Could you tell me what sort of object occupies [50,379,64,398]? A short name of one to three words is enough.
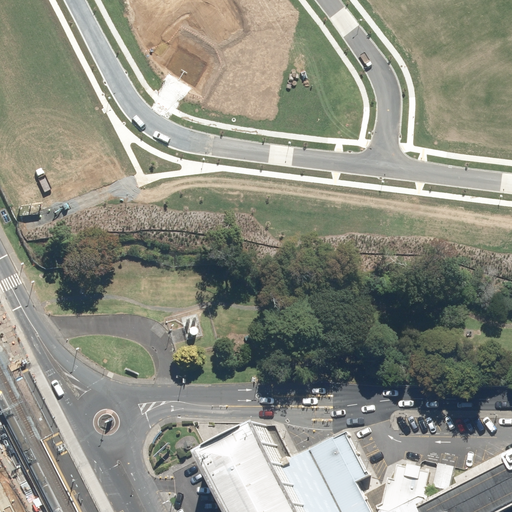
vehicle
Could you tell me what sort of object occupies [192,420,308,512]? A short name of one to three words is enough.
building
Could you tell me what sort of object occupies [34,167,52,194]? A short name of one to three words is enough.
vehicle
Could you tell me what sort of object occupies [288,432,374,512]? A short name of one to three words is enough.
building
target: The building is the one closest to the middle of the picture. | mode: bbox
[182,314,203,340]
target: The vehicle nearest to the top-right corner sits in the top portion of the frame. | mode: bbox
[359,51,374,71]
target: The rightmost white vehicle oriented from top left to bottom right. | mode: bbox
[482,416,498,436]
